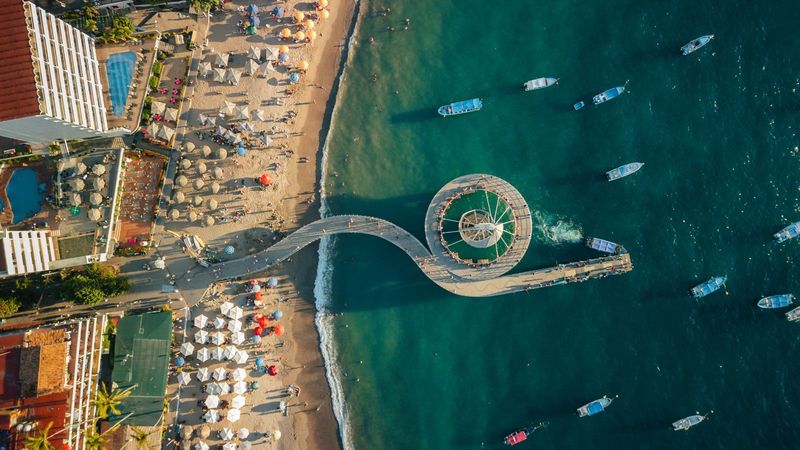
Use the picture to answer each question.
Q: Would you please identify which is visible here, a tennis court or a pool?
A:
pool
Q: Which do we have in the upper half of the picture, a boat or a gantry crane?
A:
boat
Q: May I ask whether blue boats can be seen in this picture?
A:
Yes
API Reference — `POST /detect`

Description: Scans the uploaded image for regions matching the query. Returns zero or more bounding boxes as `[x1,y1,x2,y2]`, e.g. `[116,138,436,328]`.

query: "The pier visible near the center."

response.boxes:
[196,173,634,297]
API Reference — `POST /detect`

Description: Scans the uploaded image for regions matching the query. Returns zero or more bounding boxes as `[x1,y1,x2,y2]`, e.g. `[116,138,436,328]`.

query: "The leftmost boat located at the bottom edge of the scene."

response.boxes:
[502,429,534,447]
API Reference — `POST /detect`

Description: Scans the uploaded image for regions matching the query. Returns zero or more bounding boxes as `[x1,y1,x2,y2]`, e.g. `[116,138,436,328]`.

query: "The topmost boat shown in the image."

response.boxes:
[679,36,714,55]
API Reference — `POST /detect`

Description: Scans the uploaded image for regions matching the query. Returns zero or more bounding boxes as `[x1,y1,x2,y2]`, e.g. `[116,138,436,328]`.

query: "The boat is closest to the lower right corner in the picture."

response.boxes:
[670,415,705,430]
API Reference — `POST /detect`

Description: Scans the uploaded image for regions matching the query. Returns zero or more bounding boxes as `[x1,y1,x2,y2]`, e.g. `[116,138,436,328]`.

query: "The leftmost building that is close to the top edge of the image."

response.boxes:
[0,2,98,144]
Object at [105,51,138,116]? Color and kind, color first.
blue swimming pool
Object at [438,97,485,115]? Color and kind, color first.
blue boat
